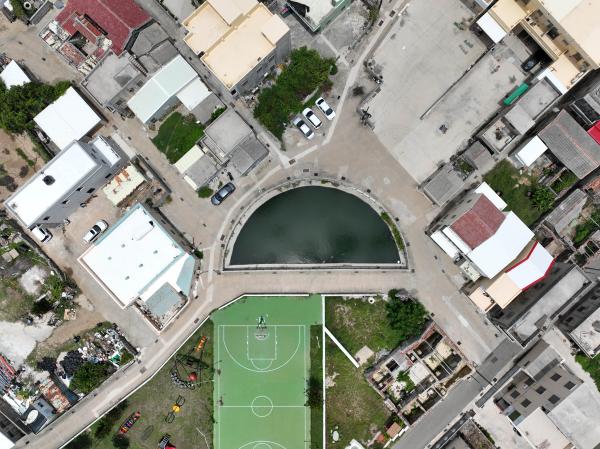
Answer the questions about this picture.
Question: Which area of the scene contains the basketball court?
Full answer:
The basketball court sits in the bottom section of the image.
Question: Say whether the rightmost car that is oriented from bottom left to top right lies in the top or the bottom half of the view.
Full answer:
You can find the rightmost car that is oriented from bottom left to top right in the top half.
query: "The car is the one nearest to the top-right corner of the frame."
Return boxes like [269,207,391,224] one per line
[516,50,544,74]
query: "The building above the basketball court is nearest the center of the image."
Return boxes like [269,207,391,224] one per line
[227,131,271,178]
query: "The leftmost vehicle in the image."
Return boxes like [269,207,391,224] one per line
[29,226,56,244]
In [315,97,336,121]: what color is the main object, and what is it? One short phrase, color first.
white car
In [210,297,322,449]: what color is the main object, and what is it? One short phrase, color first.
green basketball court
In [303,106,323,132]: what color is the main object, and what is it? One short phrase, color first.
white car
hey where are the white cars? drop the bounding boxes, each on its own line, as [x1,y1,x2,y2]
[294,116,315,141]
[303,106,323,132]
[29,226,56,244]
[315,97,336,121]
[83,220,110,243]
